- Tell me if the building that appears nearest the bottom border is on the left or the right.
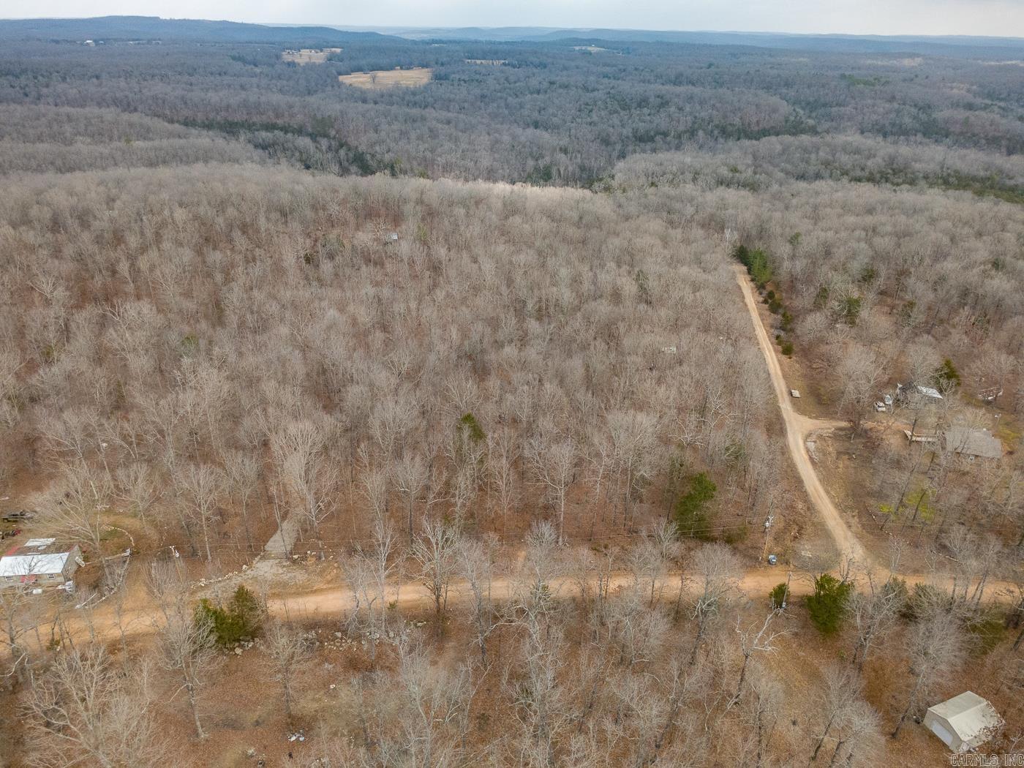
right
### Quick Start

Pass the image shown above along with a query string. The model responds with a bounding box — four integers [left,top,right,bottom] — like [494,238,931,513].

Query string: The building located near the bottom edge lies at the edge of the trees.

[924,688,1004,753]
